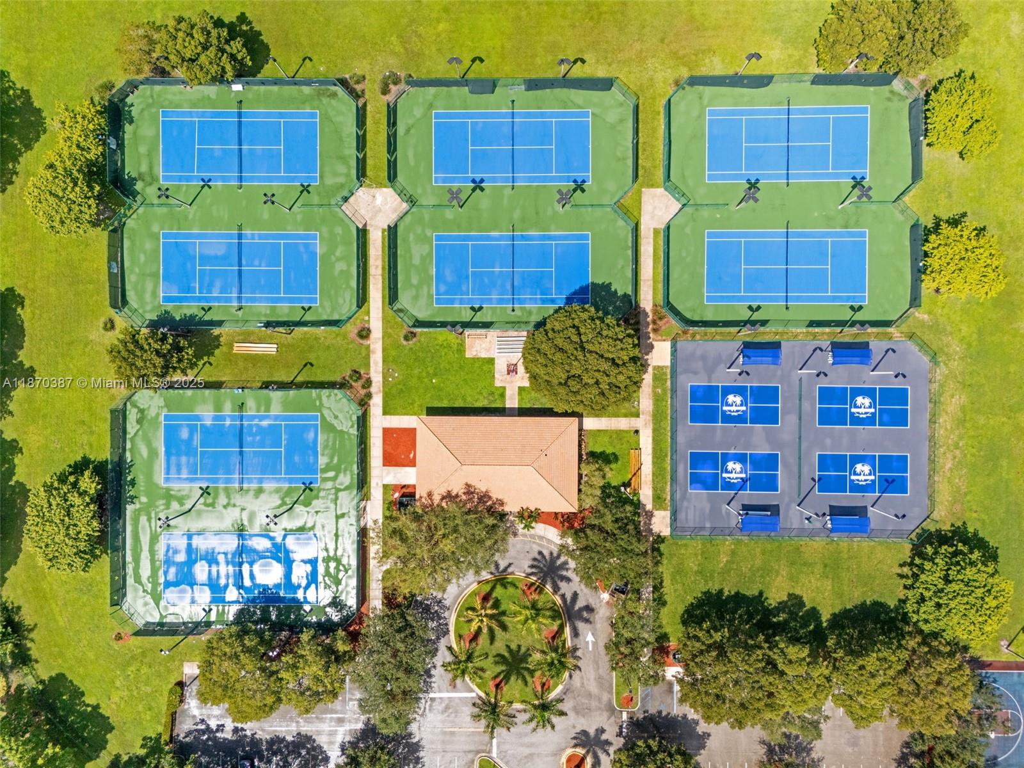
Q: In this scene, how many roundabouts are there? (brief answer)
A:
1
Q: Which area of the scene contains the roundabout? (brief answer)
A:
bottom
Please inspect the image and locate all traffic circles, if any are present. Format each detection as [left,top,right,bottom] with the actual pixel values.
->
[449,571,571,706]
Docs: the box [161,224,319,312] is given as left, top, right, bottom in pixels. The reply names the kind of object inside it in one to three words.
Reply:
tennis court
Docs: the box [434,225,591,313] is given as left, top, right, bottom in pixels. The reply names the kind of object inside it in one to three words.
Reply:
tennis court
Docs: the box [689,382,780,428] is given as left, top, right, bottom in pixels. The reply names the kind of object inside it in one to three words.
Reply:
sports court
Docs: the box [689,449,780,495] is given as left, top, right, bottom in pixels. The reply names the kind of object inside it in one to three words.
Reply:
sports court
